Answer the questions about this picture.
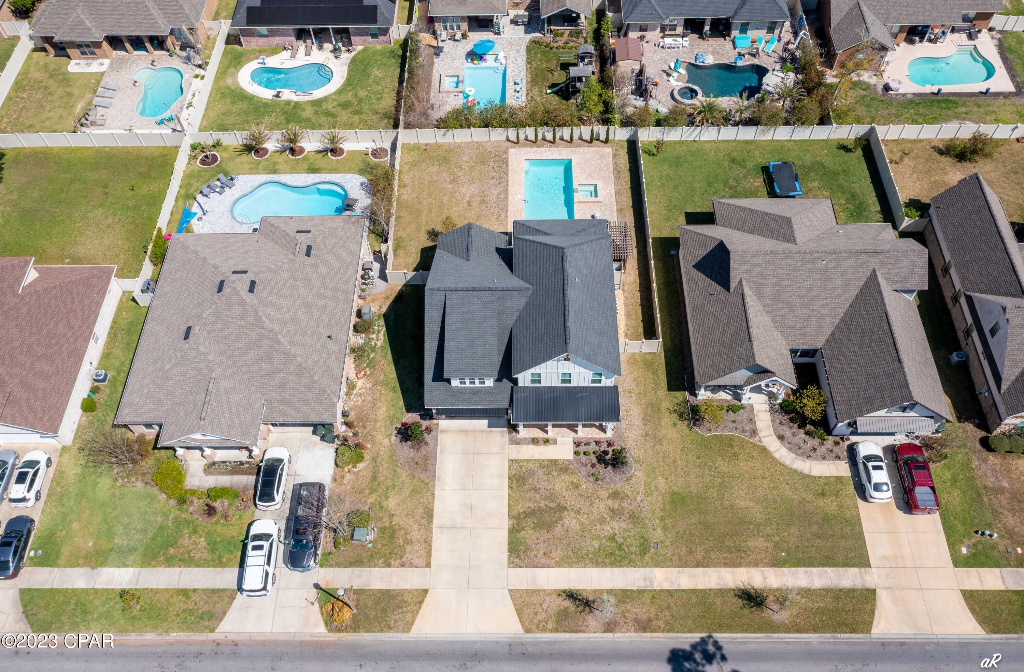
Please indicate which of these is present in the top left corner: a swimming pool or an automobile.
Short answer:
swimming pool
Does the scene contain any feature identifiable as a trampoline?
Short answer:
Yes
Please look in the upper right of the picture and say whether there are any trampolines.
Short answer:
Yes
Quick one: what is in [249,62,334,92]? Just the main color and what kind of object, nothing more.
blue swimming pool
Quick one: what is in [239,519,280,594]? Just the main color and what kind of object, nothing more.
white car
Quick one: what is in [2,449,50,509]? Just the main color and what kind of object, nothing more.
white car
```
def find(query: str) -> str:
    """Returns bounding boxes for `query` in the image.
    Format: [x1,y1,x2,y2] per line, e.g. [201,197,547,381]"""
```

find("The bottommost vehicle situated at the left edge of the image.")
[0,513,32,581]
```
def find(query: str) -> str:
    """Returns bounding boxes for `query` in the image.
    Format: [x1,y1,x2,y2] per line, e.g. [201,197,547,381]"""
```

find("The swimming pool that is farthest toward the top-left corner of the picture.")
[132,64,186,119]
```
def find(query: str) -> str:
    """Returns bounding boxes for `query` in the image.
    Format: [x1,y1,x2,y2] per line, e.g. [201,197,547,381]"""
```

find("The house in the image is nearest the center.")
[424,218,621,439]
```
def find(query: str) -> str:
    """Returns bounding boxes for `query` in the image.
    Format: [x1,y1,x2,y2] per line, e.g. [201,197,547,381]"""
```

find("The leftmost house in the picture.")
[0,256,118,446]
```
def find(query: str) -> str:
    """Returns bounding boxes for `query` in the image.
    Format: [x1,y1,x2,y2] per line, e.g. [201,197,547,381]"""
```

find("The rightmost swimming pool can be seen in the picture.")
[906,43,997,87]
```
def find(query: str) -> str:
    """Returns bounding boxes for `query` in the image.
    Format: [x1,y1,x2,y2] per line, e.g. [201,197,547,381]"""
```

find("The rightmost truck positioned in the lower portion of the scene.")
[894,443,944,517]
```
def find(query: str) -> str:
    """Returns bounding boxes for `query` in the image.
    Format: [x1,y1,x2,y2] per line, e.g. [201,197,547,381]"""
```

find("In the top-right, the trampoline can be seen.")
[768,160,801,198]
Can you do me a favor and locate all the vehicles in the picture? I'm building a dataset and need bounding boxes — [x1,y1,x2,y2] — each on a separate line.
[239,519,280,594]
[894,443,944,517]
[0,513,32,581]
[2,449,50,509]
[856,439,898,504]
[0,449,18,502]
[252,444,290,509]
[283,488,323,571]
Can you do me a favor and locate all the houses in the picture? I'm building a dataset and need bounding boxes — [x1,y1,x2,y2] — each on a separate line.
[31,0,216,62]
[921,172,1024,434]
[620,0,790,39]
[0,256,118,446]
[427,0,541,36]
[675,198,953,433]
[424,218,621,439]
[230,0,397,48]
[810,0,1003,72]
[119,214,367,460]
